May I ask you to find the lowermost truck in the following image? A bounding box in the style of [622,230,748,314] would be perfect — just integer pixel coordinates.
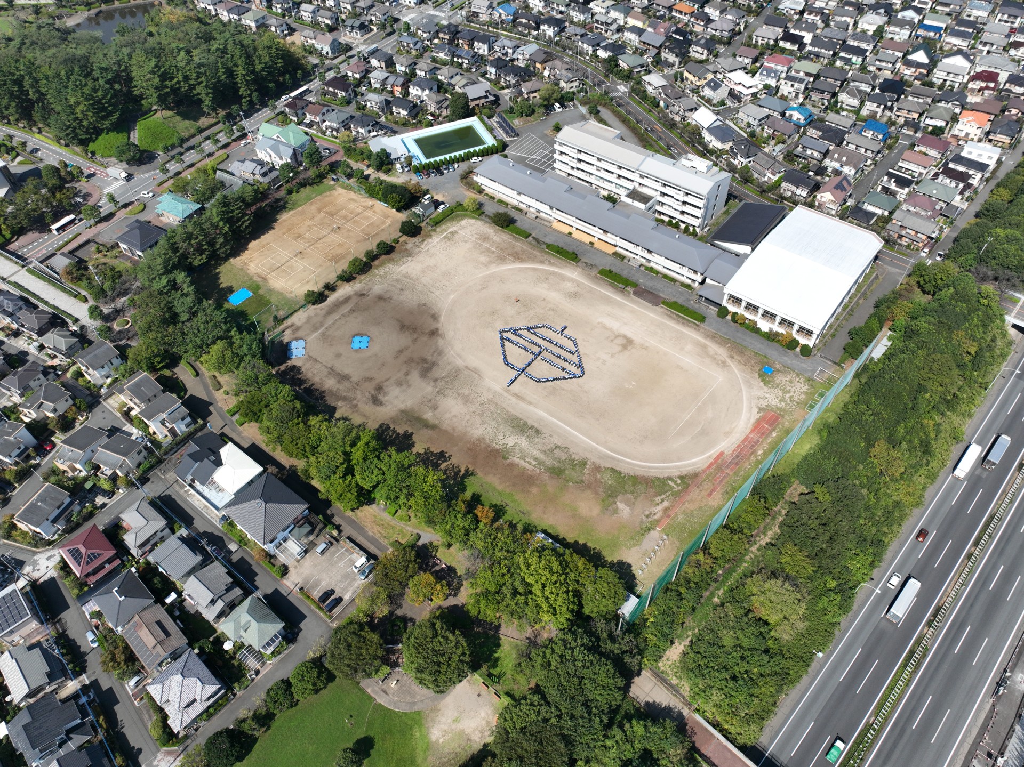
[822,730,850,764]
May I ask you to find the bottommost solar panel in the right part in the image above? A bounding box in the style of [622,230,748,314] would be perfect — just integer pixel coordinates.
[822,178,851,200]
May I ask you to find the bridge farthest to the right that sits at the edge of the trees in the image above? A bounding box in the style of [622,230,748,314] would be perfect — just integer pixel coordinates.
[994,291,1024,338]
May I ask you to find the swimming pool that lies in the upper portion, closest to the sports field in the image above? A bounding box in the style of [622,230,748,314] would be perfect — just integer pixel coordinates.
[397,112,496,165]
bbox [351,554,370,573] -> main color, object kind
white vehicle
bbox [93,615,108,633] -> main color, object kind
gray car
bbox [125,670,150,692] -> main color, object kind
gray car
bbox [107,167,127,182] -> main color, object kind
white vehicle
